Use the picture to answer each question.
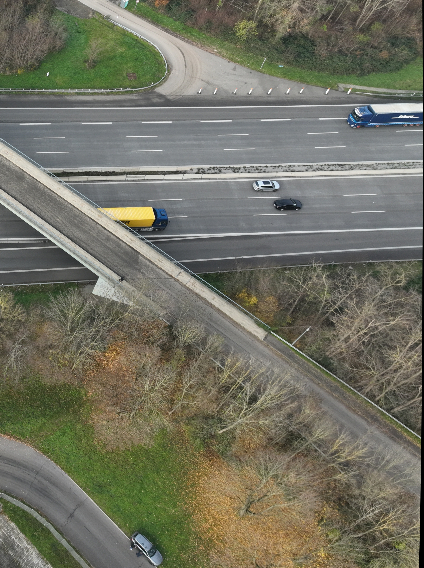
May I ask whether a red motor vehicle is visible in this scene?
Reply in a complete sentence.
No, the photo shows no red motor vehicle.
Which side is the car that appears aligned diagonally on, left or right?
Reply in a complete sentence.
The car that appears aligned diagonally is on the left side of the image.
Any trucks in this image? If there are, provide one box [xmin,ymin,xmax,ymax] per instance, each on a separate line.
[94,205,174,233]
[347,104,424,130]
